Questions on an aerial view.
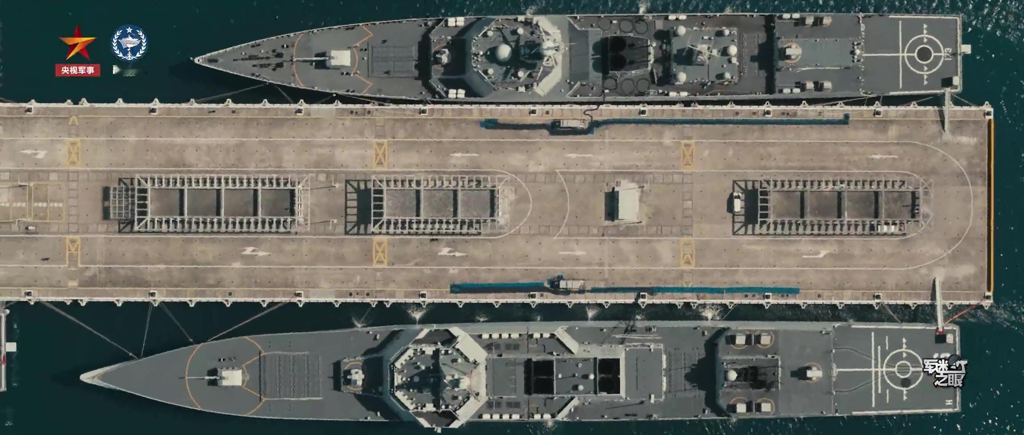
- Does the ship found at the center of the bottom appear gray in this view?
Yes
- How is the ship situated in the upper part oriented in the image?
from side to side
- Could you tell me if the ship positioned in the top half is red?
No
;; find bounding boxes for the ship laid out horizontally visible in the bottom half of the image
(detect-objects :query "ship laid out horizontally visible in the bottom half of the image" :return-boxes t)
[80,320,959,433]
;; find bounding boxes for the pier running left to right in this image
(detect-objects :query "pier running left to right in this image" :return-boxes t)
[0,99,993,310]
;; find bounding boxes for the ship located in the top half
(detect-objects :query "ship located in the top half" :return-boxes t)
[190,13,972,103]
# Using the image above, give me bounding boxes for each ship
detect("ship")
[80,320,959,433]
[0,309,17,390]
[190,13,972,103]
